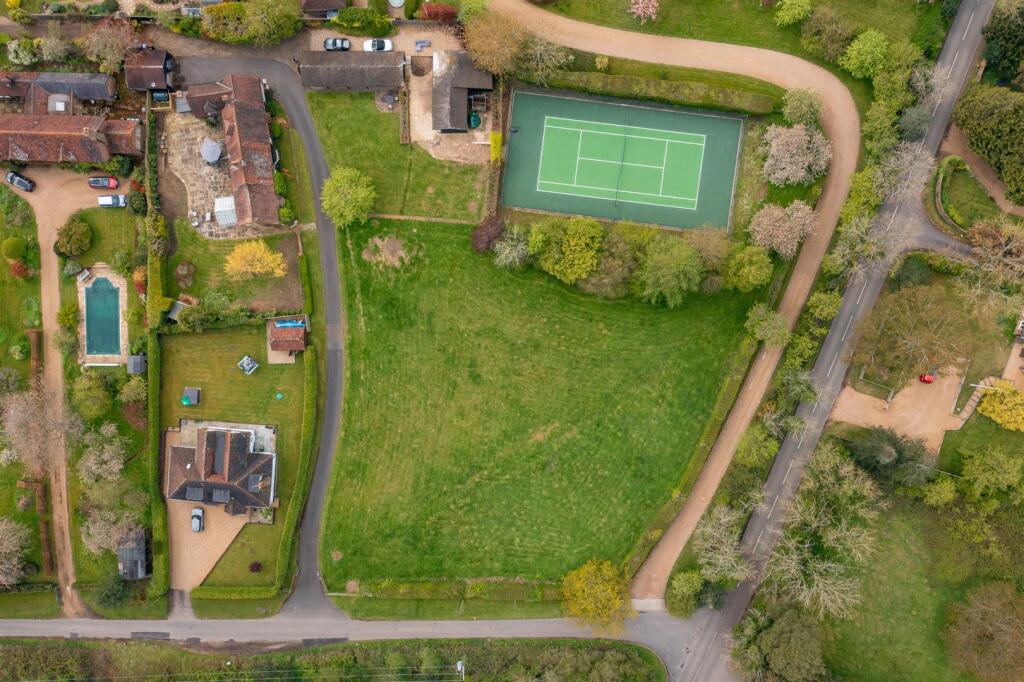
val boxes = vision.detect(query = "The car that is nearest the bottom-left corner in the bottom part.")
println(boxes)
[191,506,206,533]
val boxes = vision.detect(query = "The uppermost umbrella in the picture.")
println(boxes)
[201,139,223,161]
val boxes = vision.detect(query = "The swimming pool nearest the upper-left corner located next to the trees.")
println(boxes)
[78,262,128,364]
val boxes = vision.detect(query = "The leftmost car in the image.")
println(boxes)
[6,170,39,195]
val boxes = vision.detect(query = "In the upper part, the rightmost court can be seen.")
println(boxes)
[499,90,744,234]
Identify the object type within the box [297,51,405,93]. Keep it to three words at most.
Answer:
building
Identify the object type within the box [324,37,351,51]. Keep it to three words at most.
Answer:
car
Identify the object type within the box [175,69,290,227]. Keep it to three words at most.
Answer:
house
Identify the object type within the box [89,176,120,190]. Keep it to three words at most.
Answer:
car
